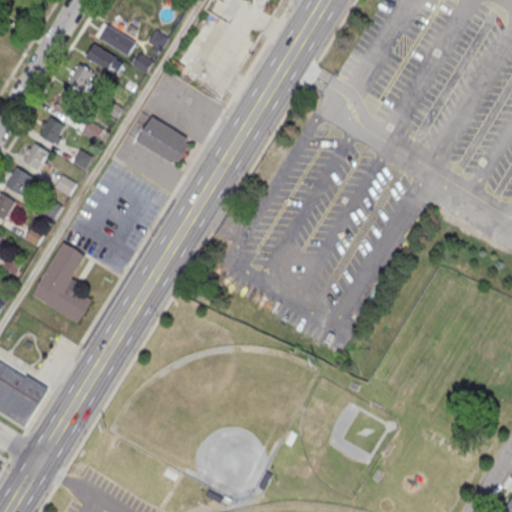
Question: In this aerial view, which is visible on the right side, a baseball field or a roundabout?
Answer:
baseball field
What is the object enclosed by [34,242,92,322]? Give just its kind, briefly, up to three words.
building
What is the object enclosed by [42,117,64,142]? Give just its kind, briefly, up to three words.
house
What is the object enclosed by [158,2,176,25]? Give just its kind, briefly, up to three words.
swimming pool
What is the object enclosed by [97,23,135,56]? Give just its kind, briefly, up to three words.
house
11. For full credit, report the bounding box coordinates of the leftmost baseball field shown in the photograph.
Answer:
[110,345,318,500]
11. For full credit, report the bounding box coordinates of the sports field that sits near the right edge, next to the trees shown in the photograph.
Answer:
[371,267,512,420]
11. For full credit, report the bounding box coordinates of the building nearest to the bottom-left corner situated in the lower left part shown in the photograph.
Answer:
[0,359,48,428]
